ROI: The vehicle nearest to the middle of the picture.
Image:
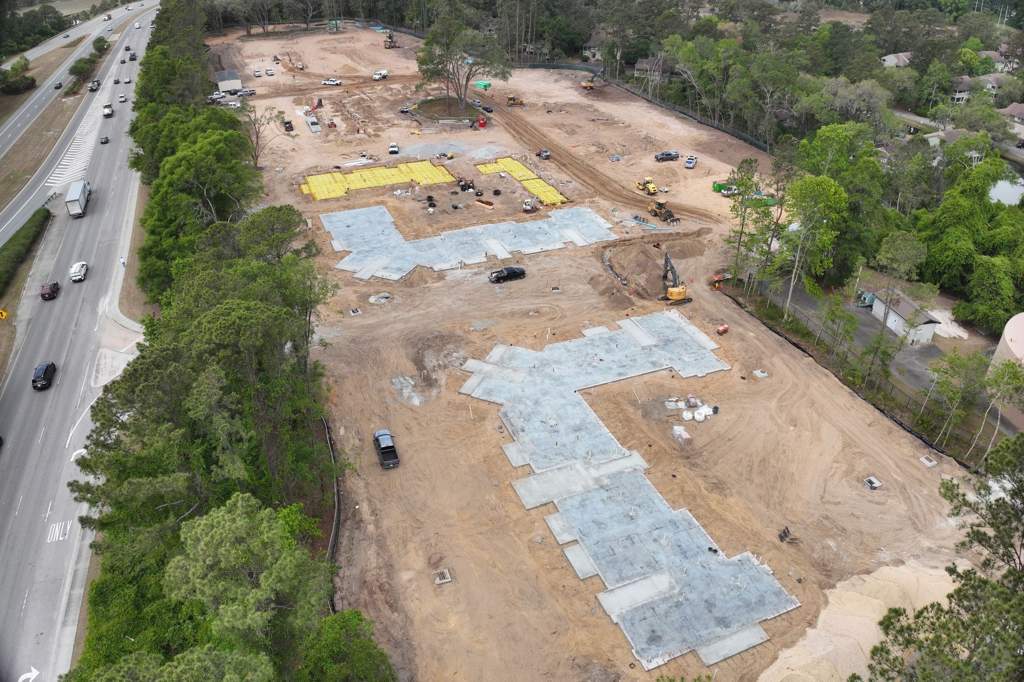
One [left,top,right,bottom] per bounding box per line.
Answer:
[489,265,526,281]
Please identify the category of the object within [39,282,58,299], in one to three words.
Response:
car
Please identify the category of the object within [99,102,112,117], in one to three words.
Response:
vehicle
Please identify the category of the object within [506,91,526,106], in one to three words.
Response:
work vehicle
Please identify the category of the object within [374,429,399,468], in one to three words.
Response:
truck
